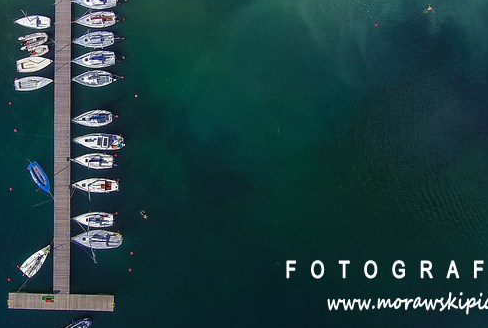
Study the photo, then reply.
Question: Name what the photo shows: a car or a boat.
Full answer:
The one in the frame is a boat.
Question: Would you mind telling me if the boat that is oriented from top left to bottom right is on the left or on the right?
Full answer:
The boat that is oriented from top left to bottom right appears in the left half of the scene.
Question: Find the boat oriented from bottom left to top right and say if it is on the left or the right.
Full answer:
The boat oriented from bottom left to top right appears in the left half of the scene.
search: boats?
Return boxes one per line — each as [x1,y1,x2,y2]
[14,13,53,30]
[72,71,120,88]
[71,50,118,69]
[22,45,49,58]
[18,240,54,288]
[71,230,126,262]
[72,132,127,152]
[20,33,48,48]
[70,0,120,11]
[70,109,115,128]
[70,178,121,198]
[73,212,116,237]
[13,76,53,90]
[70,151,116,170]
[71,30,117,50]
[28,161,54,199]
[74,9,118,29]
[15,56,55,72]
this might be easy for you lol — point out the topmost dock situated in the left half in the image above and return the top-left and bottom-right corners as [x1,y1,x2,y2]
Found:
[52,0,72,293]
